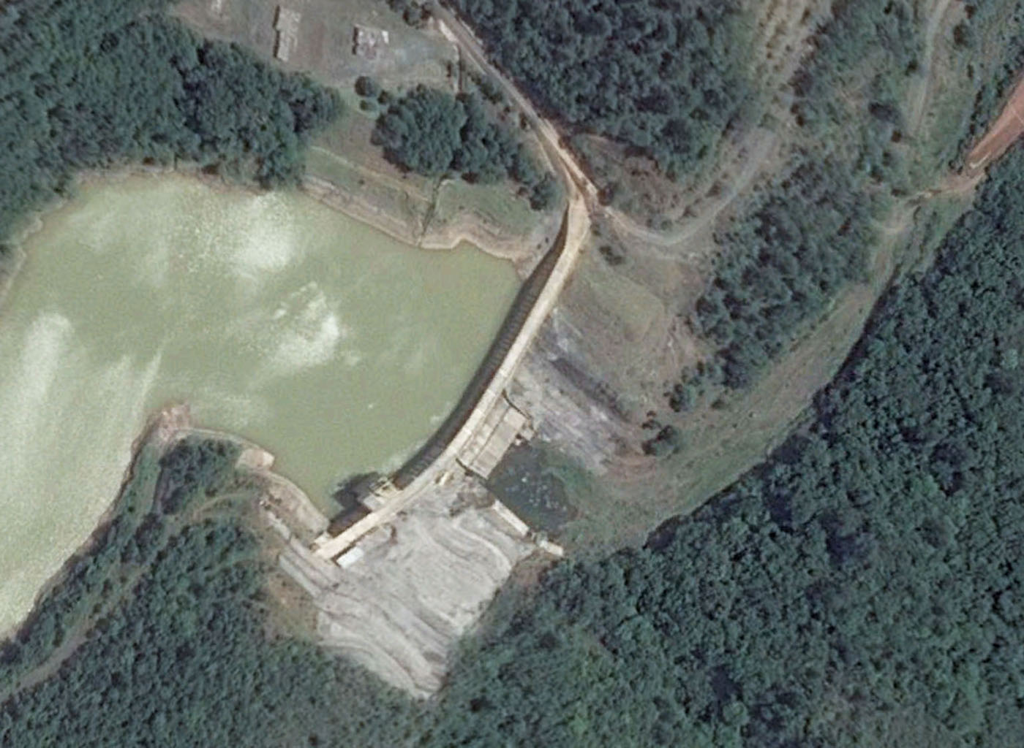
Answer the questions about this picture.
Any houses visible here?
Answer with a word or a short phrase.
Yes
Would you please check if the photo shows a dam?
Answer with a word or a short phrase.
Yes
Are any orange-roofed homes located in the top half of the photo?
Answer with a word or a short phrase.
No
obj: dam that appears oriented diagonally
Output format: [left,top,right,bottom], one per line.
[317,198,588,559]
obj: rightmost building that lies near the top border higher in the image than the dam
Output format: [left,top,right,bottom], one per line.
[355,25,388,56]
